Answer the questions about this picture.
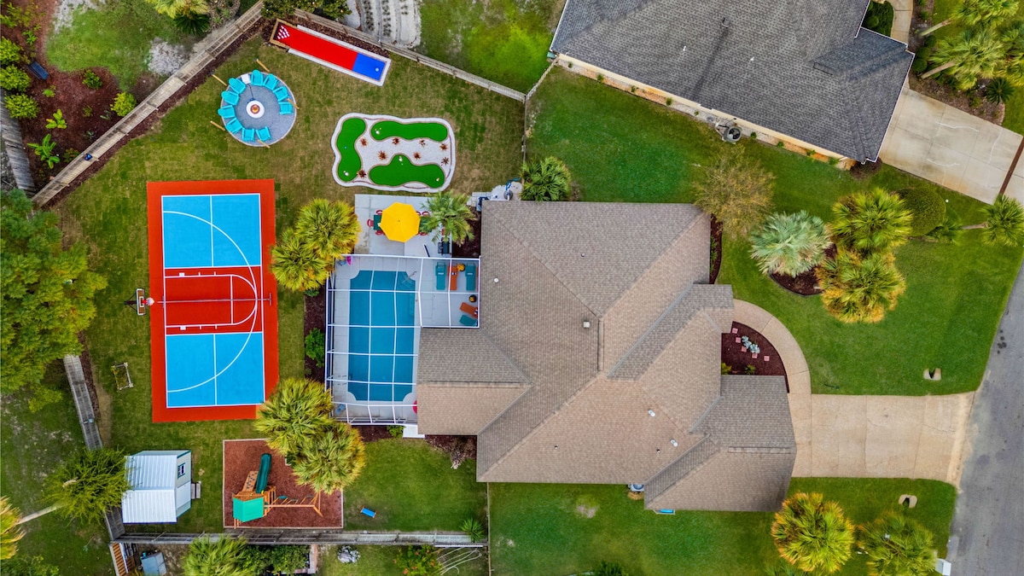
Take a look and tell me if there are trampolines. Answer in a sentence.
No, there appears to be no trampoline in this shot.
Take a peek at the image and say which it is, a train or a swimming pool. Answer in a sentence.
I can see a swimming pool in this picture.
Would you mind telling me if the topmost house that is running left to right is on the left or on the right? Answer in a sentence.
You can find the topmost house that is running left to right on the right side of the picture.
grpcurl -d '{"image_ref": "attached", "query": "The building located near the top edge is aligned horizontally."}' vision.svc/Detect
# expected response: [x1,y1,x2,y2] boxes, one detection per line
[550,0,915,162]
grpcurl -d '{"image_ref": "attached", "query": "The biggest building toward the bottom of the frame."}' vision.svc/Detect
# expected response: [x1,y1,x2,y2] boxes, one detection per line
[417,200,797,512]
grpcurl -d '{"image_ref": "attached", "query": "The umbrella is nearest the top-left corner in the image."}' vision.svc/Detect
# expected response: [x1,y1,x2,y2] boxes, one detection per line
[382,203,421,243]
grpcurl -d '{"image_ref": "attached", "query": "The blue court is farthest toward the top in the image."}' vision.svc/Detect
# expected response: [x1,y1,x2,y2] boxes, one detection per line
[147,179,278,422]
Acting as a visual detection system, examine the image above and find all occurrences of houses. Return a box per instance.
[417,200,797,512]
[550,0,915,162]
